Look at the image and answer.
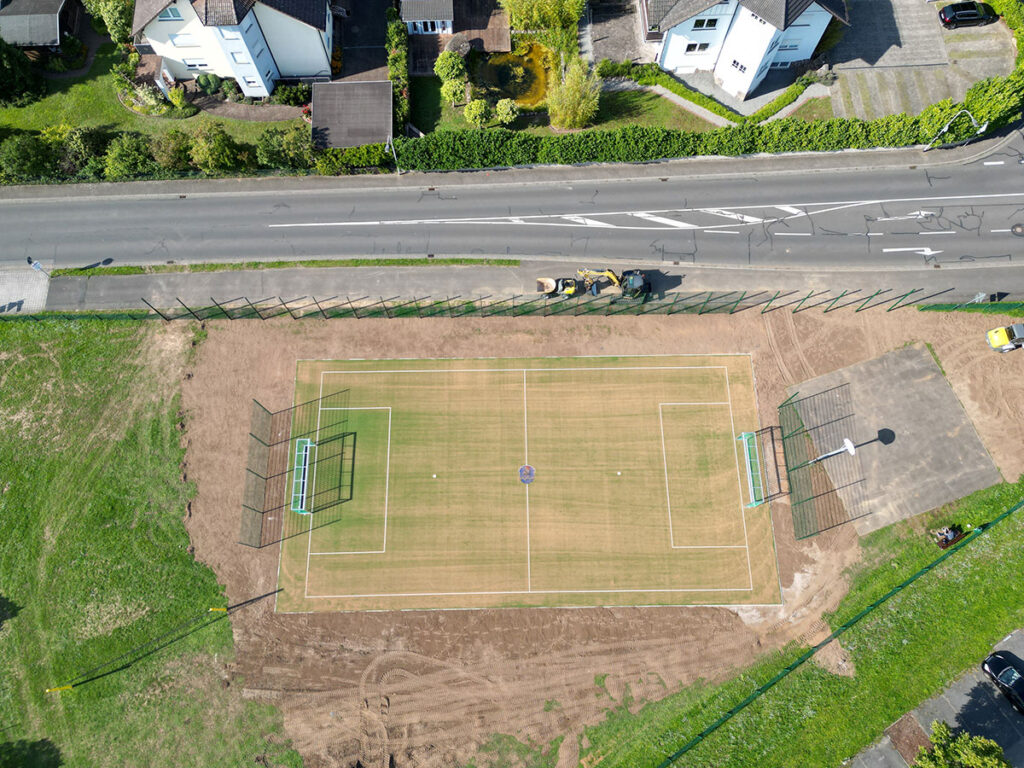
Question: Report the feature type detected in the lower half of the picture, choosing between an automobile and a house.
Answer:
automobile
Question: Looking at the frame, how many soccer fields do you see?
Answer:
1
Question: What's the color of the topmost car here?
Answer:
black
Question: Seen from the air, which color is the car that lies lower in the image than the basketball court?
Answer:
black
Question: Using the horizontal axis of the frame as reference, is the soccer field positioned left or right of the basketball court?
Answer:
to the left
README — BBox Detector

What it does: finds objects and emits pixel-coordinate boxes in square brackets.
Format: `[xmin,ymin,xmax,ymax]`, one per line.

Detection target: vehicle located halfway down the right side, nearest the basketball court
[980,320,1024,355]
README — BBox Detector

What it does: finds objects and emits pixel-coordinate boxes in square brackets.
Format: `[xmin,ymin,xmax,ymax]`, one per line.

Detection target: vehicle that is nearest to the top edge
[937,1,990,30]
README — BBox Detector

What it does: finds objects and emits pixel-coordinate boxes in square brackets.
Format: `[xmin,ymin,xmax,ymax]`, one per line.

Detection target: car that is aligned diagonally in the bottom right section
[982,653,1024,718]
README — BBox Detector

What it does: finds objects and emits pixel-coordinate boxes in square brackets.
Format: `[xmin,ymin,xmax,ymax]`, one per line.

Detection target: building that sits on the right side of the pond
[627,0,845,101]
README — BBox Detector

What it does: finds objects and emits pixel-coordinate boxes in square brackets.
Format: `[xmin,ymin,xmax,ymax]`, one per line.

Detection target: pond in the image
[482,47,552,107]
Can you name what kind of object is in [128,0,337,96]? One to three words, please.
house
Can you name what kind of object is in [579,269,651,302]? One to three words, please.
work vehicle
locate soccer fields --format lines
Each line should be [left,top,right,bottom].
[275,352,782,614]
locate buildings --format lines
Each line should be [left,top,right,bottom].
[400,0,454,33]
[627,0,845,101]
[0,0,74,61]
[128,0,337,96]
[312,80,396,161]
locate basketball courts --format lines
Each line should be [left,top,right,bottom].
[785,343,1004,537]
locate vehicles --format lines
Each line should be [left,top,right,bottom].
[980,320,1024,355]
[579,269,651,302]
[982,653,1024,718]
[937,1,990,30]
[538,276,576,302]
